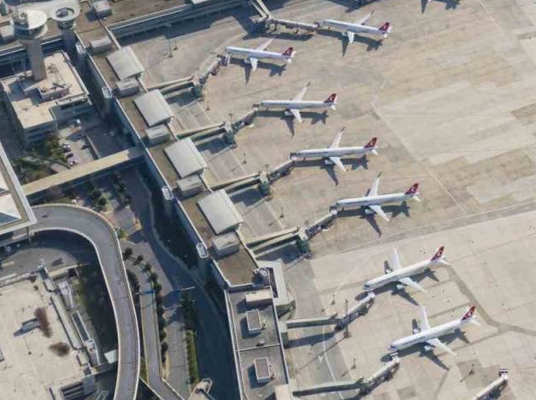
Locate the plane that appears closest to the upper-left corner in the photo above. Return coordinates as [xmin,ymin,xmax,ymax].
[226,35,294,69]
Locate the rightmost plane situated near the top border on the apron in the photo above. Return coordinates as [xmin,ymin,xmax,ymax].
[323,13,389,43]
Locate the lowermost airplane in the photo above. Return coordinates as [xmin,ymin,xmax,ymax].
[390,301,479,357]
